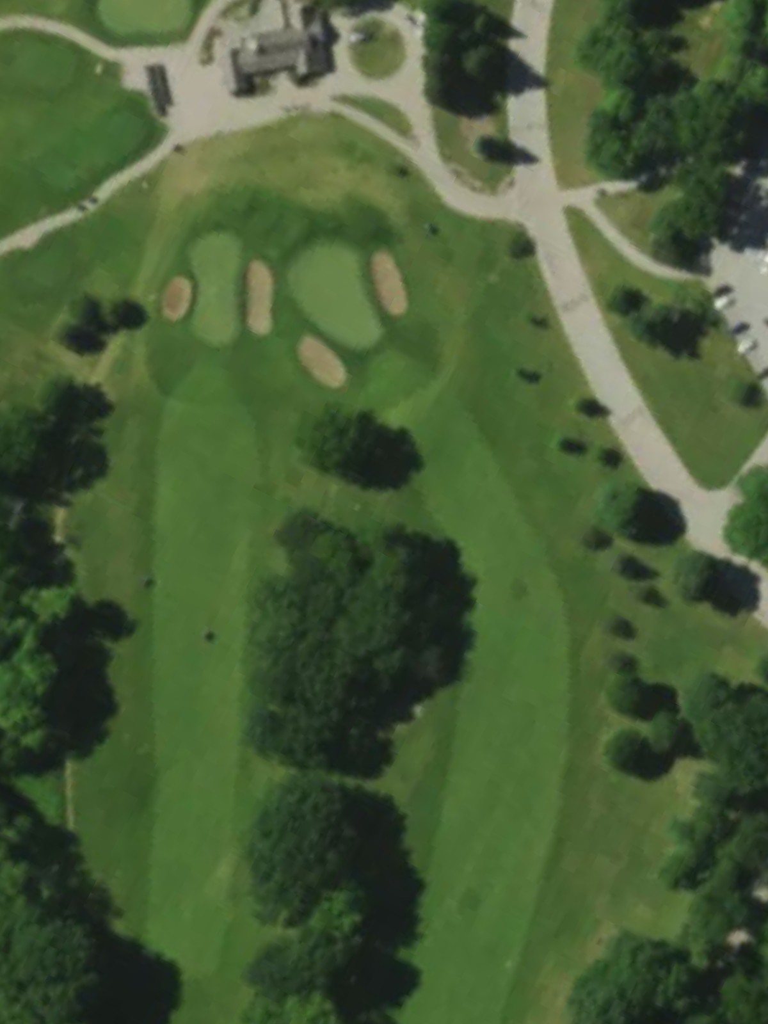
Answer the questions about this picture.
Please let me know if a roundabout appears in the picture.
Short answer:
Yes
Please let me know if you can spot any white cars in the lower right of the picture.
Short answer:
No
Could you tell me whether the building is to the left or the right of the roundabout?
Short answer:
to the left of it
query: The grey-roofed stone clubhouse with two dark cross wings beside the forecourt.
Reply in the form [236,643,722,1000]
[231,14,329,98]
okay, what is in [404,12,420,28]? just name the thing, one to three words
car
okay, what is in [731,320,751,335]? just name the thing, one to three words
car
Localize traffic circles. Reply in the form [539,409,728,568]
[333,3,421,93]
